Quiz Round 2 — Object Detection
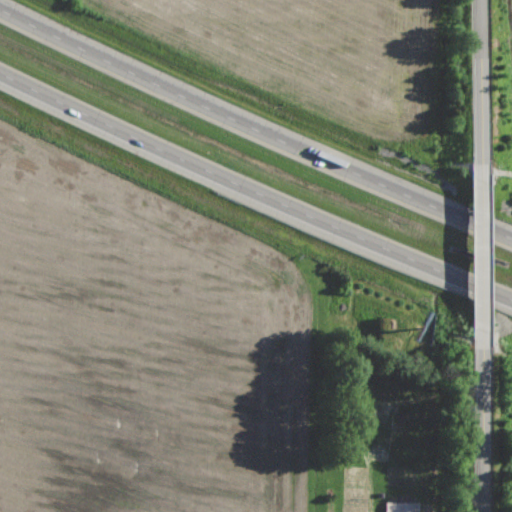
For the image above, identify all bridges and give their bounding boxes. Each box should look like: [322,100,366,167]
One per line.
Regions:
[472,156,496,360]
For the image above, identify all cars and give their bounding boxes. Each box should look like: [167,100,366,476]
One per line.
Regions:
[70,110,81,118]
[314,160,326,168]
[132,140,143,148]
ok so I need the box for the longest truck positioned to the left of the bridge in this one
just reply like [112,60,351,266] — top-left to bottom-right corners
[308,146,350,168]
